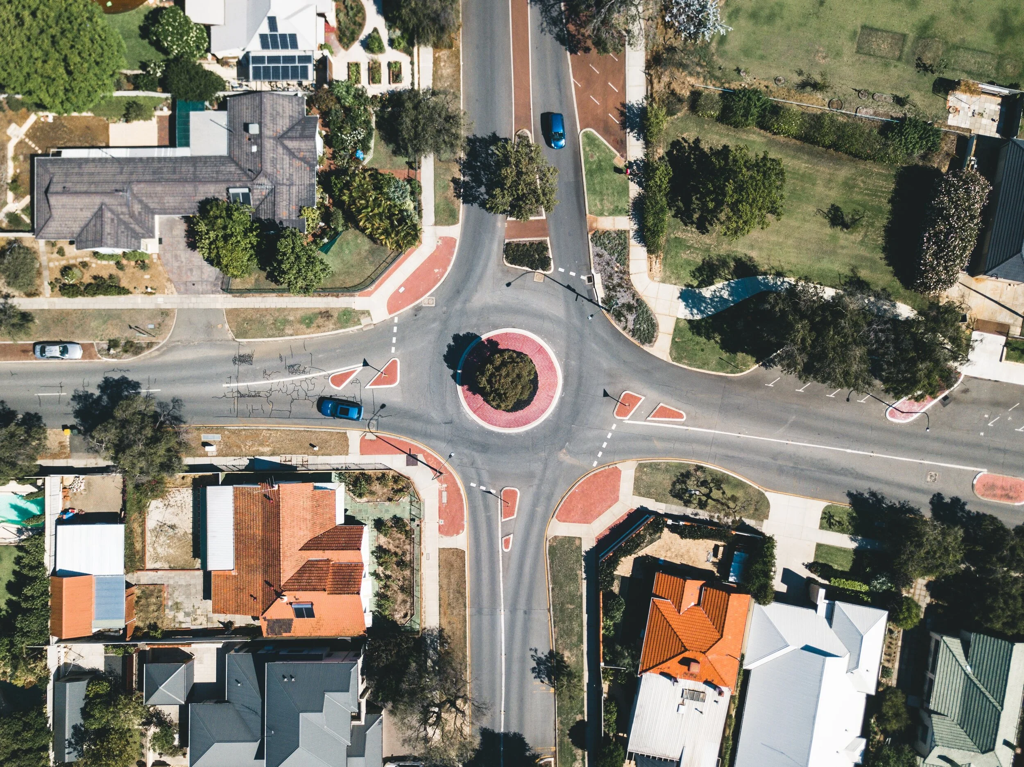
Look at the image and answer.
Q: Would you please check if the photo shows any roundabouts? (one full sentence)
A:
Yes, there's a roundabout down there.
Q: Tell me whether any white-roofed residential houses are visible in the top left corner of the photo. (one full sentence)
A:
Yes, a white-roofed residential house shows up in the top left corner of the photo.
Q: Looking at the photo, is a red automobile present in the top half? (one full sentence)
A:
No, I can find no red automobile in the top half.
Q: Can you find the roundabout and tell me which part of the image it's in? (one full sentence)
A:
The roundabout appears toward the center of the photo.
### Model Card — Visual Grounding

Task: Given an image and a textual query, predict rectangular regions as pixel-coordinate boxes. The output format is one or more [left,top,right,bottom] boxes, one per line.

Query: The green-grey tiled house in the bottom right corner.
[912,628,1024,767]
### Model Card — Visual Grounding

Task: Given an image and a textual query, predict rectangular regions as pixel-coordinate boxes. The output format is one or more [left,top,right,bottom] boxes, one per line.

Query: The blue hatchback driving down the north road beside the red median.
[549,112,567,150]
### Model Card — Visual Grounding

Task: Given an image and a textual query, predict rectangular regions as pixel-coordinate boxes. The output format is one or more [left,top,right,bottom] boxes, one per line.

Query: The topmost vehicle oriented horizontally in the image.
[34,341,84,362]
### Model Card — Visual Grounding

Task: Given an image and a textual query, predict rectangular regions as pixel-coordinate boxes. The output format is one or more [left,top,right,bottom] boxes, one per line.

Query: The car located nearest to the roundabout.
[321,400,364,421]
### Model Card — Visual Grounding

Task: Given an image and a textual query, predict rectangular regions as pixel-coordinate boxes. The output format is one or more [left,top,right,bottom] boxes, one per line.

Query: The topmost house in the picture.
[185,0,327,88]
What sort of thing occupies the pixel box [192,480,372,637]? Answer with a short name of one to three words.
house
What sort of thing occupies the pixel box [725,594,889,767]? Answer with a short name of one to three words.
house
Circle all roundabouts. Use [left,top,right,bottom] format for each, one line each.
[457,327,562,433]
